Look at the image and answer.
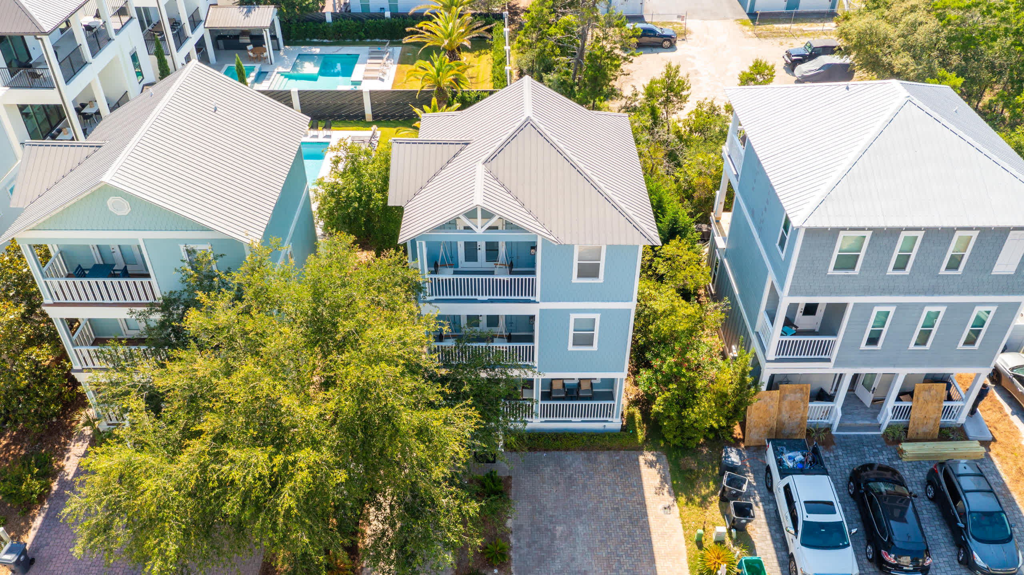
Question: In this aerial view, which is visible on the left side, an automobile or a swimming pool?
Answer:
swimming pool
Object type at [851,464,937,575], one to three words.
car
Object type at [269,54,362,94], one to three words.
swimming pool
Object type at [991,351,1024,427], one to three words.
car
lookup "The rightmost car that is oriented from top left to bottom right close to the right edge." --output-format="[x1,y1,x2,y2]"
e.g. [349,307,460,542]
[926,459,1024,575]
